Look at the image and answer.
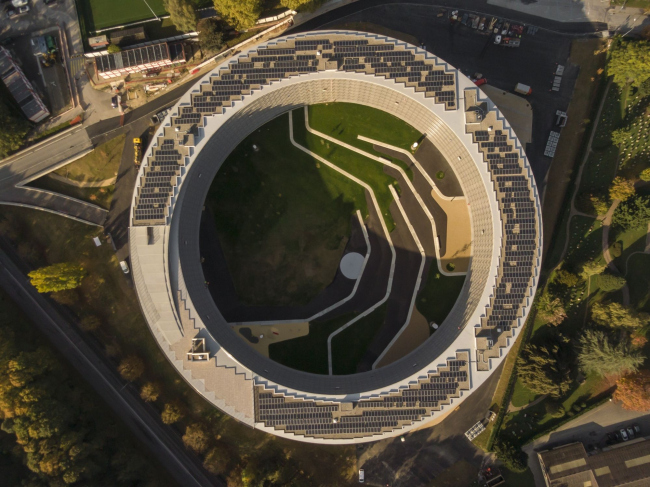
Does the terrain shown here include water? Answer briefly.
No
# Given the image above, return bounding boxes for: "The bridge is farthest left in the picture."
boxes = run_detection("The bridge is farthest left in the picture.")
[0,124,95,193]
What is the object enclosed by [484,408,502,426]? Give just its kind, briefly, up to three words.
vehicle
